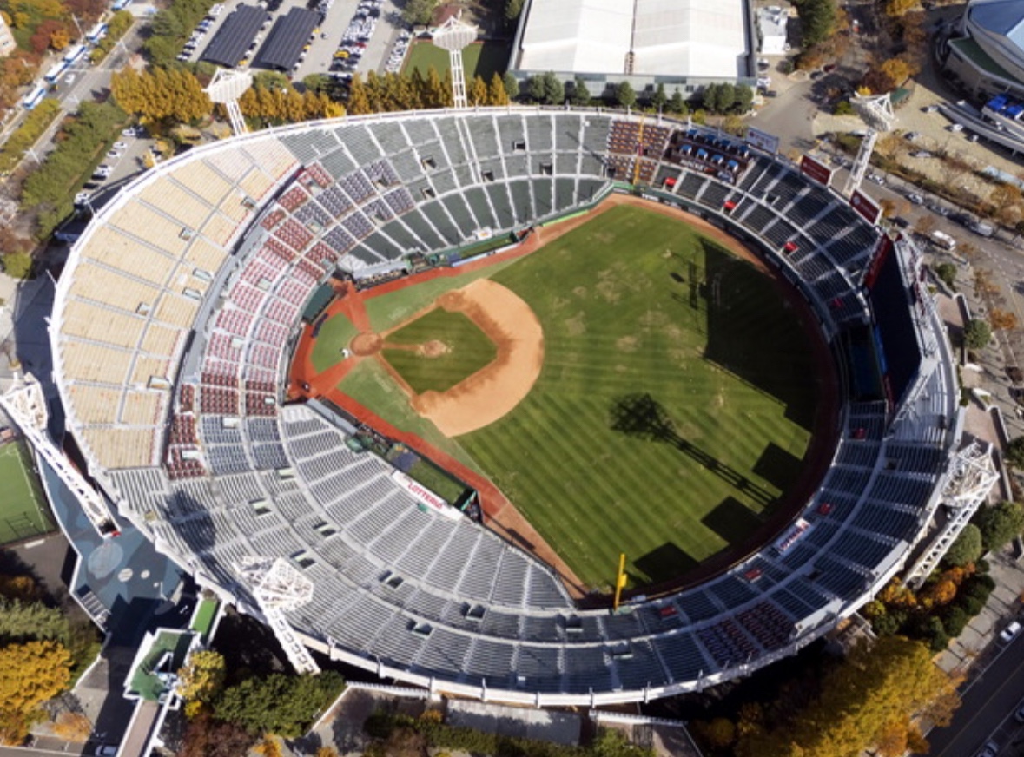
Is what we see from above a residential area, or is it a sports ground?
sports ground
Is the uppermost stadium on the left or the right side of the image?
right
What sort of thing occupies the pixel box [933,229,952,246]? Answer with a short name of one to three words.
vehicle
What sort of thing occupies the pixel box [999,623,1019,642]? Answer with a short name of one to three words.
car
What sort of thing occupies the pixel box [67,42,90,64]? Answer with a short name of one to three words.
bus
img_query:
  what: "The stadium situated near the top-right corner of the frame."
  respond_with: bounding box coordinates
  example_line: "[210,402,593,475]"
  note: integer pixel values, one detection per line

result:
[925,0,1024,162]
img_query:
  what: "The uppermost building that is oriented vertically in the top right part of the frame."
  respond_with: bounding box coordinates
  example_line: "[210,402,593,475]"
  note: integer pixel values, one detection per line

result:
[755,5,787,70]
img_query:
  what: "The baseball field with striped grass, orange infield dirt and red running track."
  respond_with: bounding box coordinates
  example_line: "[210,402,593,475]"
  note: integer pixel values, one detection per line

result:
[272,185,843,601]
